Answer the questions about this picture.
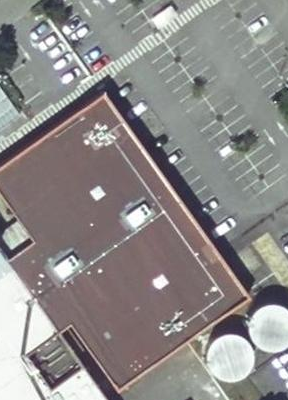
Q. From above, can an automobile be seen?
Yes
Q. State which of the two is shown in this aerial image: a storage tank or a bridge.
storage tank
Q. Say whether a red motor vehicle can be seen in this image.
Yes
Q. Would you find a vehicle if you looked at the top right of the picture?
Yes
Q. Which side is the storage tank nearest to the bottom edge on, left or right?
right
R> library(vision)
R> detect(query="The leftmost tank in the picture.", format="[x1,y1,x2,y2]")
[206,334,256,383]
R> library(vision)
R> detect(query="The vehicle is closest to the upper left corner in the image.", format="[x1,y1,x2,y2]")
[29,24,50,40]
